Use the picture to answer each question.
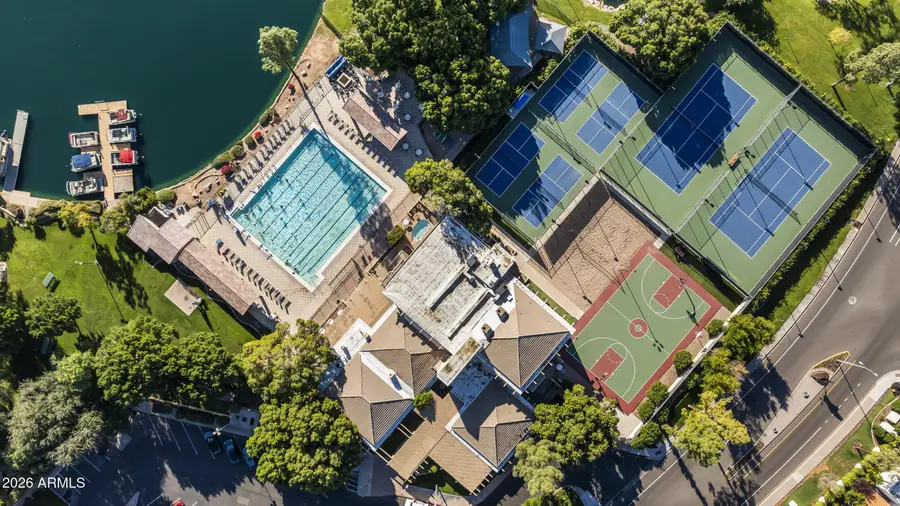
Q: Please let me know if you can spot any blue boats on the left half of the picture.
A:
Yes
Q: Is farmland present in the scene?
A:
No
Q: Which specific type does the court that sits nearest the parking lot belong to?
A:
basketball court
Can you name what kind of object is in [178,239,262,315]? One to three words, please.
building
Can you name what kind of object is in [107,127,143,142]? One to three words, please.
boat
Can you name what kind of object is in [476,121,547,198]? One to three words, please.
sports court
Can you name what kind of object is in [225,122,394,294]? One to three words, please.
swimming pool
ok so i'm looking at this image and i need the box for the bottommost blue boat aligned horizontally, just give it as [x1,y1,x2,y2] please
[63,154,101,171]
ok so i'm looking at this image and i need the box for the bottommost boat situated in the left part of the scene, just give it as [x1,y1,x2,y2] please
[58,178,101,197]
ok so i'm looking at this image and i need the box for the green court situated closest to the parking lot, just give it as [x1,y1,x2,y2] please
[557,241,722,415]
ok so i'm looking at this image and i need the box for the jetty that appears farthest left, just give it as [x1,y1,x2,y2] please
[3,110,30,192]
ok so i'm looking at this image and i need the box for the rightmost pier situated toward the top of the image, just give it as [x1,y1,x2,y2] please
[75,100,133,200]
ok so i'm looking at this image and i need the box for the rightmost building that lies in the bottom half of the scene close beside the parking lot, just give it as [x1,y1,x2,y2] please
[311,216,574,473]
